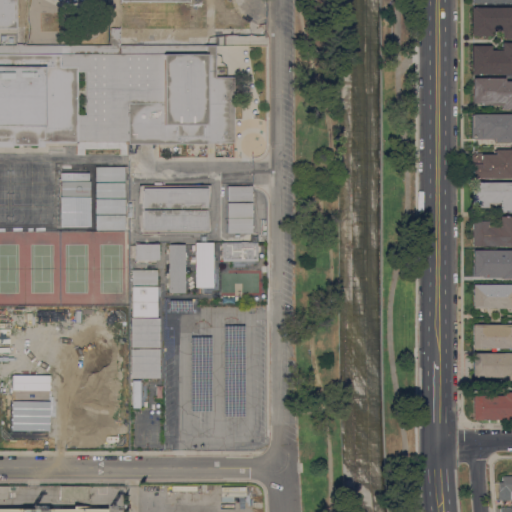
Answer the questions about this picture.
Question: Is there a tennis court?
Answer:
Yes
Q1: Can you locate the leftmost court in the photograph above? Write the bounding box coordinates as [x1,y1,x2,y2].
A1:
[0,244,22,294]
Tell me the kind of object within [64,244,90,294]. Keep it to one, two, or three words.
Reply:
tennis court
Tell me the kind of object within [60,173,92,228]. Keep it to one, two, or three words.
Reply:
building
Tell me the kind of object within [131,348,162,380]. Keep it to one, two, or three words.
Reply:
shed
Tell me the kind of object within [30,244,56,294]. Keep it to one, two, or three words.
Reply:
tennis court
